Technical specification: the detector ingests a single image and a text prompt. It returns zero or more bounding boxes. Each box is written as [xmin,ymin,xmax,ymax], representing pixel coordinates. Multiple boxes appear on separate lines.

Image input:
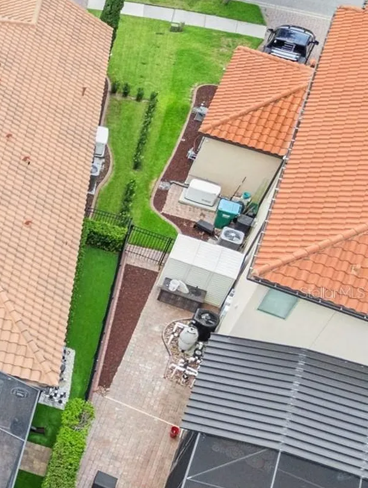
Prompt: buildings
[0,0,117,422]
[186,1,368,405]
